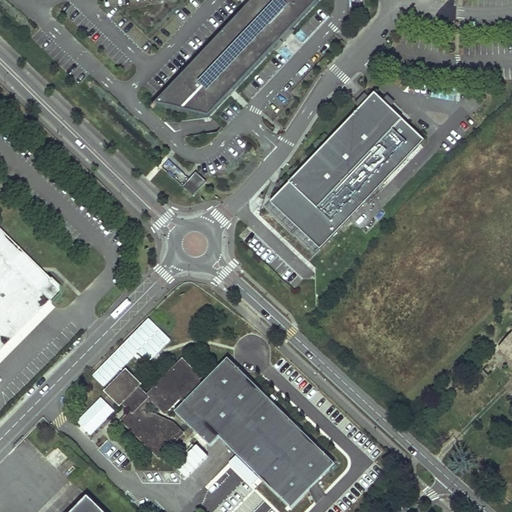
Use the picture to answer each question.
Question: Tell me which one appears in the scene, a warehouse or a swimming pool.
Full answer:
It is a warehouse that can be seen here.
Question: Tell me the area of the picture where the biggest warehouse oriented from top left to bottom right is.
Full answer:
The biggest warehouse oriented from top left to bottom right is in the bottom part of the image.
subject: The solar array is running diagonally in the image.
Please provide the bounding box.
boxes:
[198,0,290,89]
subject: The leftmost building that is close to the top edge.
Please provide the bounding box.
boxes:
[150,0,323,118]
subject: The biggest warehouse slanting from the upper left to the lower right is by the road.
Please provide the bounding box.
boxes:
[175,358,334,510]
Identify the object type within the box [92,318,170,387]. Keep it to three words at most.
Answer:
shed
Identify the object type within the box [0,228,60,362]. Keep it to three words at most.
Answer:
building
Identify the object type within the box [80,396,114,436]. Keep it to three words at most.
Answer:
shed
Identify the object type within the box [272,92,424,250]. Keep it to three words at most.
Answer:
building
